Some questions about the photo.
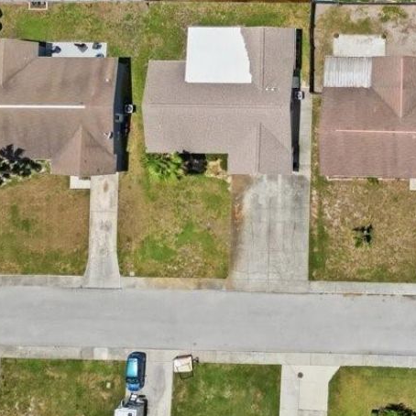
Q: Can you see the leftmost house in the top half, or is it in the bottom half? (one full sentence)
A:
It is in the top half that the leftmost house appears.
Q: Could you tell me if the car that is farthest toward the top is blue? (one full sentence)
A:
Yes, the car that is farthest toward the top is indeed blue.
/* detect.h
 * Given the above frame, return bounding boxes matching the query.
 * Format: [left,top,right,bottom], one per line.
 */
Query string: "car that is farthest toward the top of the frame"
[124,351,146,391]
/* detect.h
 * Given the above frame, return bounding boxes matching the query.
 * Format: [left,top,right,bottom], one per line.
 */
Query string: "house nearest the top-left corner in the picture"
[0,38,124,178]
